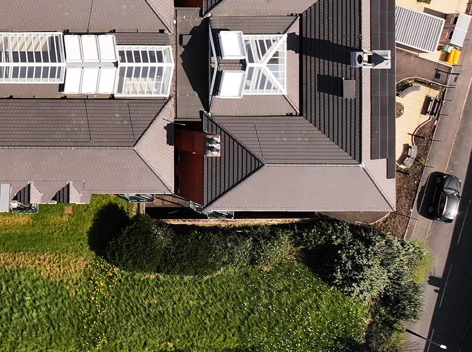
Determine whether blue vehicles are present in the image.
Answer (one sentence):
No, I can see no blue vehicle in this picture.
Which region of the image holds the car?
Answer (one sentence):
The car is located in the right region of the scene.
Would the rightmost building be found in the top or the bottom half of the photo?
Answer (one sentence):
It is in the top half that the rightmost building appears.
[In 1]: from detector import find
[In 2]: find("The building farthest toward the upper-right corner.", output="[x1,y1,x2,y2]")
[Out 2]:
[435,13,472,47]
